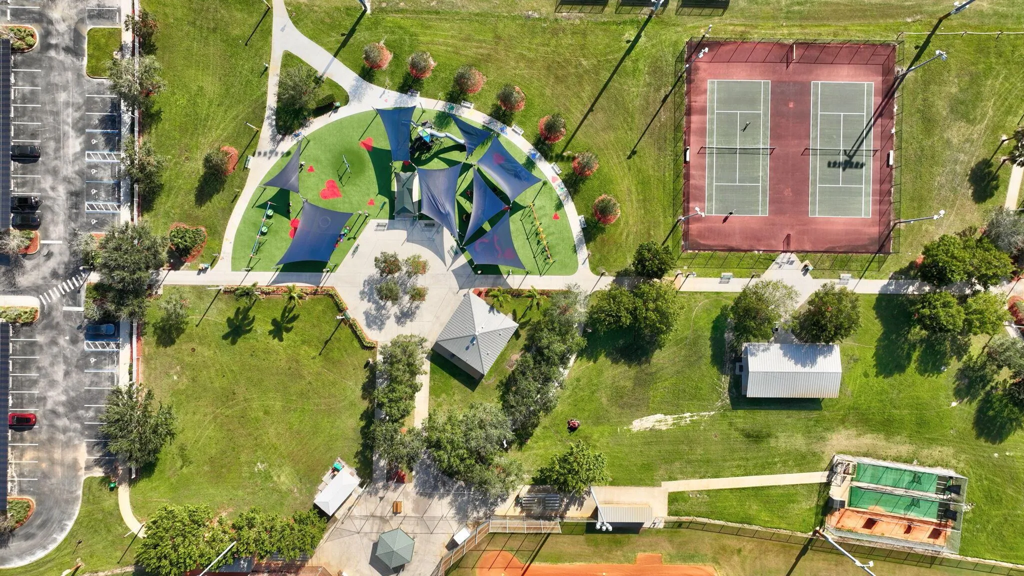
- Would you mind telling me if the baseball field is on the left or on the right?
right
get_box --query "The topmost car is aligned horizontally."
[14,144,43,157]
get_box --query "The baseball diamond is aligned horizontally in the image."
[434,518,1024,576]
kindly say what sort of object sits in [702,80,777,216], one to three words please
tennis court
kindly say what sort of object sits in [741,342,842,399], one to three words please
building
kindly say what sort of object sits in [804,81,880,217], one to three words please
tennis court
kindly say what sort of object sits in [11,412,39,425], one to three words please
vehicle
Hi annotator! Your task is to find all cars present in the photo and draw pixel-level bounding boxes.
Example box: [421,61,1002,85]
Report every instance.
[11,412,39,425]
[14,144,43,157]
[86,323,115,336]
[15,214,41,226]
[12,195,41,207]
